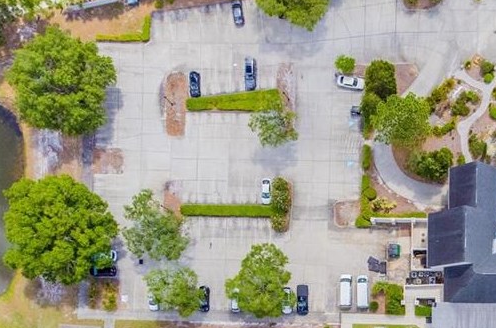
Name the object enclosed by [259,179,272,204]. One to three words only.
vehicle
